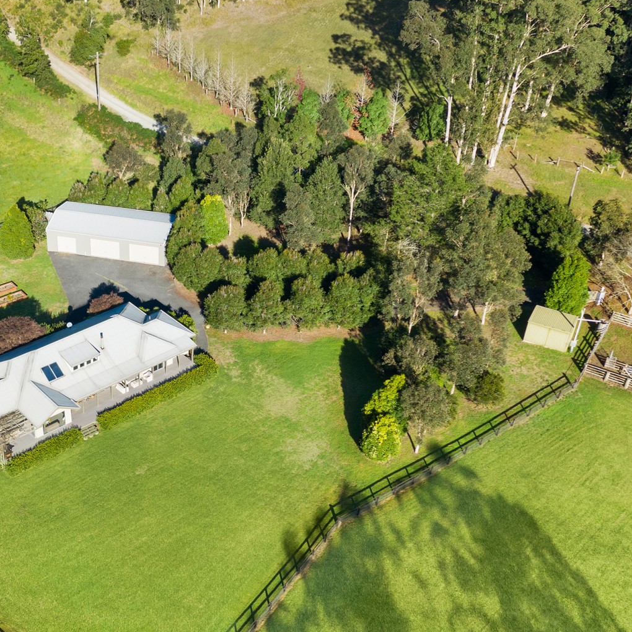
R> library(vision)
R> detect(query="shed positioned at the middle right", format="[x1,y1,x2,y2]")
[523,307,575,353]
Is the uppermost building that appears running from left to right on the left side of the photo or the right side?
left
